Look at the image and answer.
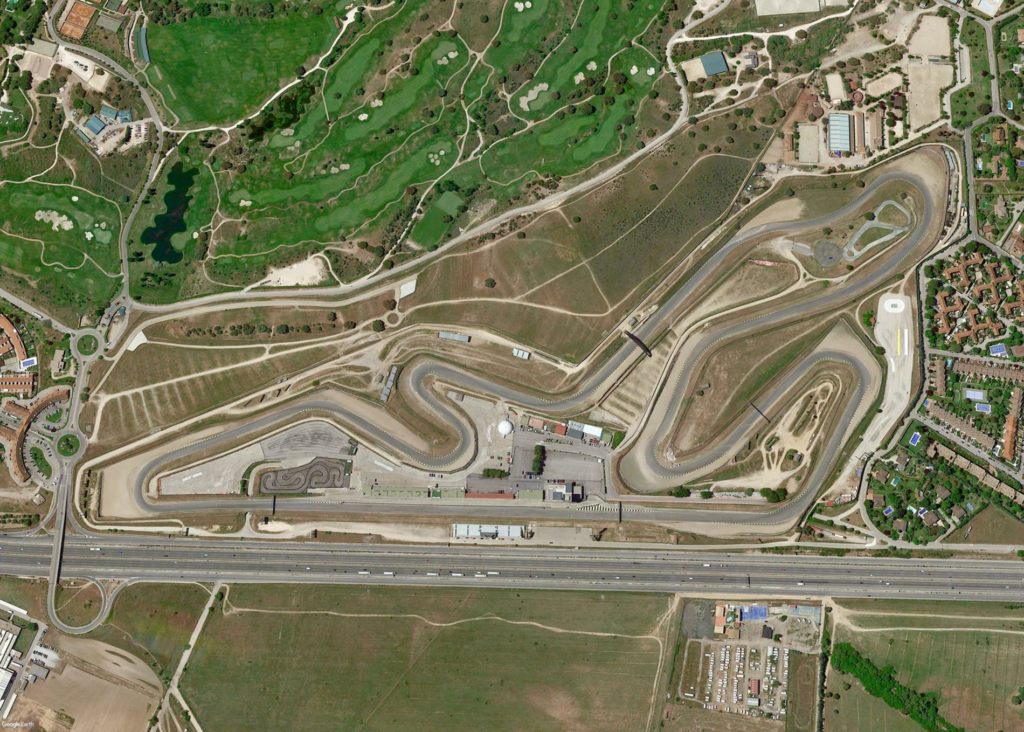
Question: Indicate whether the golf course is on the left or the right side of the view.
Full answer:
The golf course is on the left side of the image.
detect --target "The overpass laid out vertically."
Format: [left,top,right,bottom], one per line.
[46,460,69,606]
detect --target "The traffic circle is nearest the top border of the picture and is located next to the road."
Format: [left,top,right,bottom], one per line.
[70,328,105,362]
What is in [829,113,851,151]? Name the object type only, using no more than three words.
building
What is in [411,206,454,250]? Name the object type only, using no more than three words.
sports field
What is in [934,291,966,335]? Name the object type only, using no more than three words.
building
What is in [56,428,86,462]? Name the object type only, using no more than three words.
roundabout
